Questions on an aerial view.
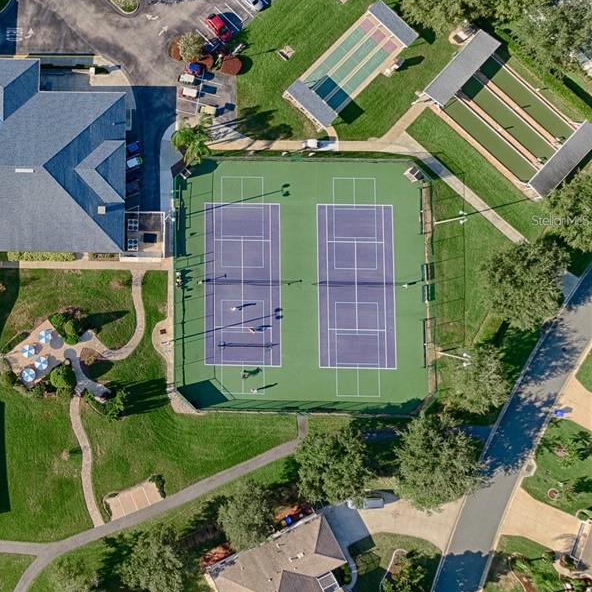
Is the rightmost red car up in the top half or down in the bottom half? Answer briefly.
top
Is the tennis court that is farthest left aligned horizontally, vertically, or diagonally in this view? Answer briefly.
vertically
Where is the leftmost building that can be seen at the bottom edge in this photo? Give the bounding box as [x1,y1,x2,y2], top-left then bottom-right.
[208,512,345,592]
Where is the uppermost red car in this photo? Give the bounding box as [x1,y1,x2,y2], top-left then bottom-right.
[204,12,234,43]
